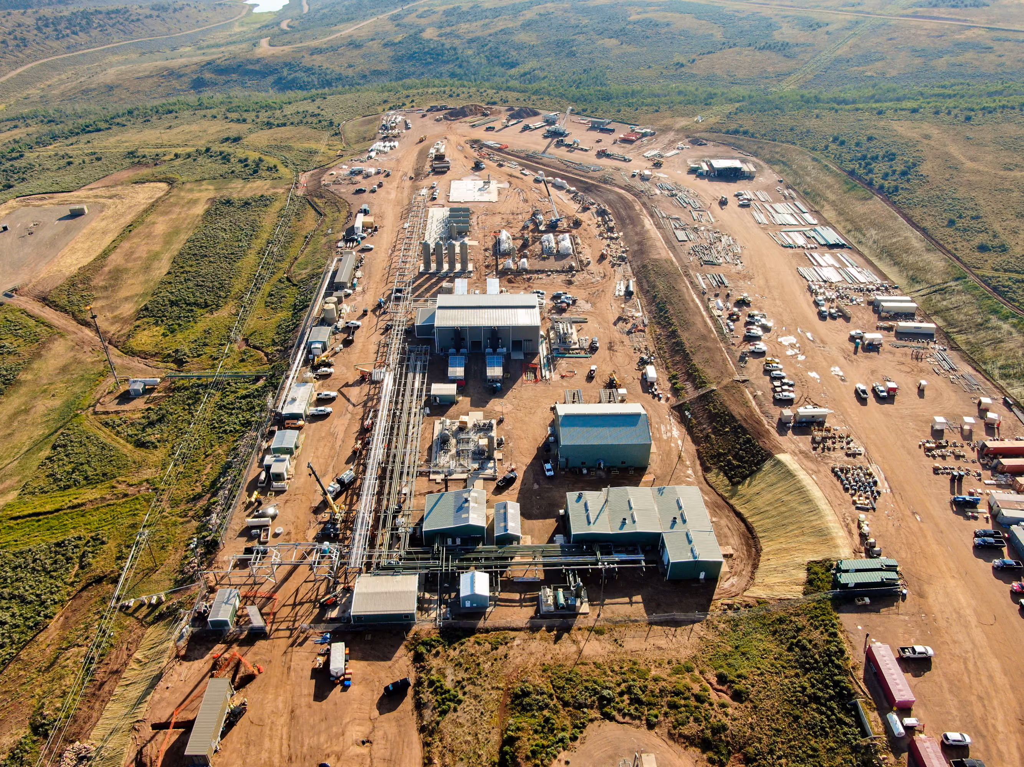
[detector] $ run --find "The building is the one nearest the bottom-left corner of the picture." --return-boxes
[183,677,241,767]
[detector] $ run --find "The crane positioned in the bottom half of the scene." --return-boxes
[305,459,358,540]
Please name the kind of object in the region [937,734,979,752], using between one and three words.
car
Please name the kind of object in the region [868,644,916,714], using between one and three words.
shipping container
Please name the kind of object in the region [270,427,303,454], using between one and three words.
building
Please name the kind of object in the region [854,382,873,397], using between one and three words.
vehicle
